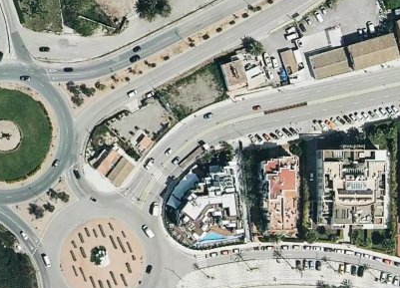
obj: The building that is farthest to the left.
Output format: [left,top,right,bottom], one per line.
[89,143,137,189]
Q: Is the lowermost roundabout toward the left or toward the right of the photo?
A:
left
